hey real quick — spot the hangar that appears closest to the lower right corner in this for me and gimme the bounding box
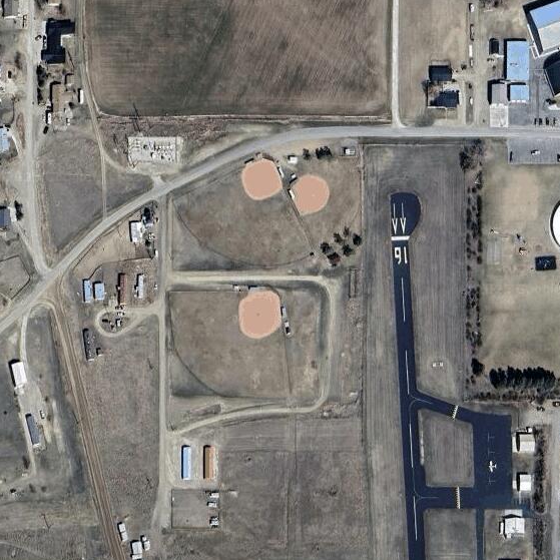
[504,517,524,535]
